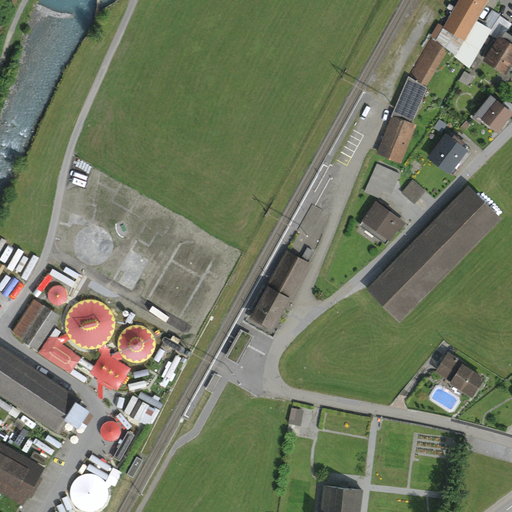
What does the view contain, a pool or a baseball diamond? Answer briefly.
pool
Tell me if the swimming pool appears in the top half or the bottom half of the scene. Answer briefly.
bottom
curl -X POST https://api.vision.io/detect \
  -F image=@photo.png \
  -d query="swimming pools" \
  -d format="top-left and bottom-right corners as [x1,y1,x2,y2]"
[427,384,460,412]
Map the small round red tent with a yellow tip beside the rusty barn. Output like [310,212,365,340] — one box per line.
[46,282,72,309]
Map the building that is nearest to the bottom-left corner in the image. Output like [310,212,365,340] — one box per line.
[0,442,44,506]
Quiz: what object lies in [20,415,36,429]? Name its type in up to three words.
camper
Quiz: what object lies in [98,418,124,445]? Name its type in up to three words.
tent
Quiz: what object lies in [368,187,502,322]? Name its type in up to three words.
barn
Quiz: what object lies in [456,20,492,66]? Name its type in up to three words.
building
